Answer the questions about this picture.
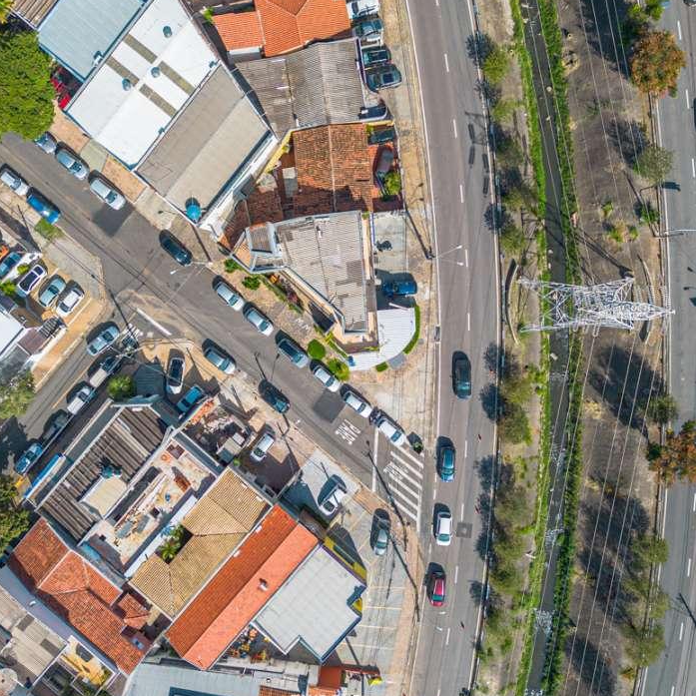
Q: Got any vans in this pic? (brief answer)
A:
Yes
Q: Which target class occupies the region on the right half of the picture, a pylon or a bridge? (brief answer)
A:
pylon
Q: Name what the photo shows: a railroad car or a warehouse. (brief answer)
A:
warehouse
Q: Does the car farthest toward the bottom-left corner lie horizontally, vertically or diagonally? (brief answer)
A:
diagonally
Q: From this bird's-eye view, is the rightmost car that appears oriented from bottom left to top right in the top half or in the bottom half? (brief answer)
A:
bottom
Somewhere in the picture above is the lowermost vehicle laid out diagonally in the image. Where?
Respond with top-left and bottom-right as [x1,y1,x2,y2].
[318,477,347,514]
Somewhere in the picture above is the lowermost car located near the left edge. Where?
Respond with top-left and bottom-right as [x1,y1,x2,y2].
[13,442,43,474]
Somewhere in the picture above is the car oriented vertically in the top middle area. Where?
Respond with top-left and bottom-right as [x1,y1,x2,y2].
[378,142,396,178]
